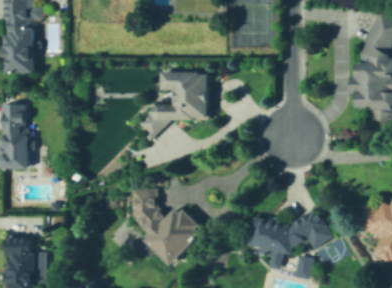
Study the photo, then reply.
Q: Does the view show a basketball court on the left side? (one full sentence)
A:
No, I see no basketball court on the left side.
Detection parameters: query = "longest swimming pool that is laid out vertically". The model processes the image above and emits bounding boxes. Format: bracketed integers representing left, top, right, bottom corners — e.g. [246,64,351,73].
[47,17,60,54]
